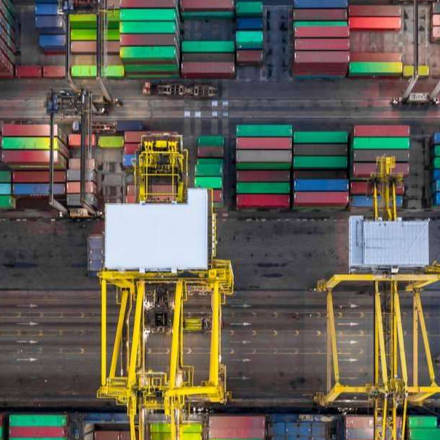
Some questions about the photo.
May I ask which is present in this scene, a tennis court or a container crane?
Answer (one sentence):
Visible in the photo is a container crane.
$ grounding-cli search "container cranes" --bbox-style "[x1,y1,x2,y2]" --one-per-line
[392,0,440,105]
[57,0,123,105]
[40,88,108,215]
[306,152,440,440]
[96,127,244,440]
